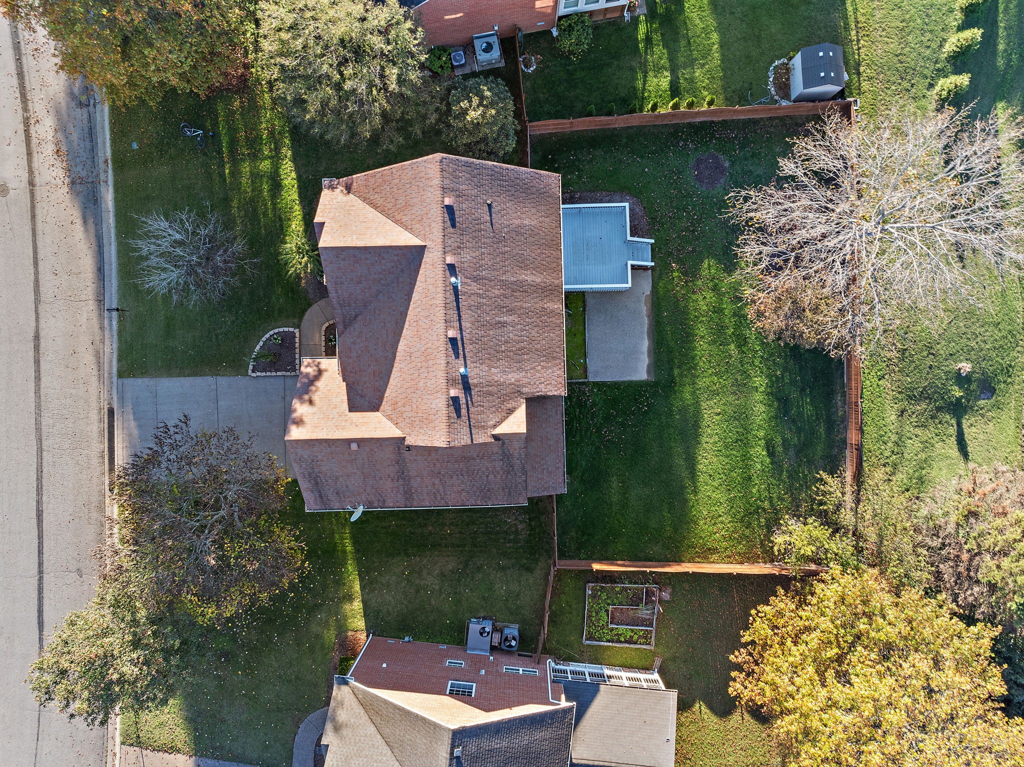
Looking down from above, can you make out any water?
No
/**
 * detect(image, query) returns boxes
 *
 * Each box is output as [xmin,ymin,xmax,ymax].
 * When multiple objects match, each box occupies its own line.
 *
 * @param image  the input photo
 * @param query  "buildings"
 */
[319,630,677,767]
[791,42,848,100]
[403,0,634,51]
[286,152,571,514]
